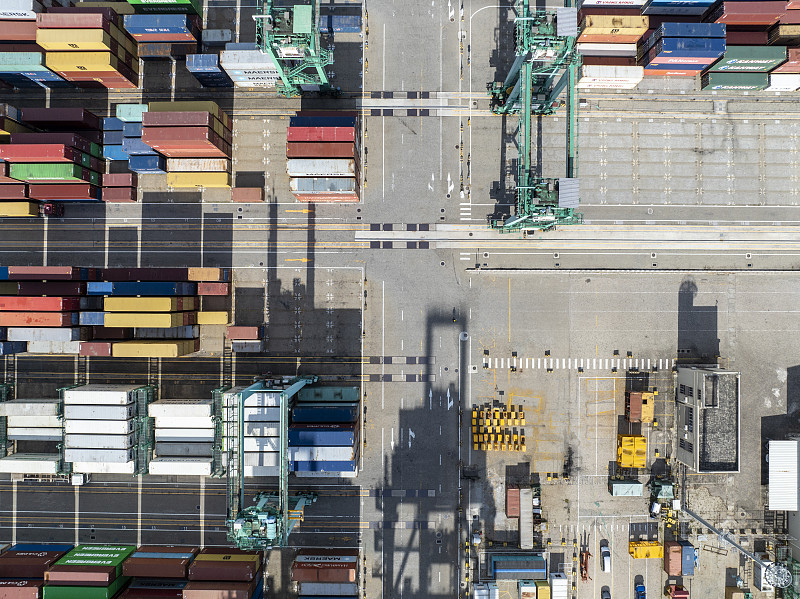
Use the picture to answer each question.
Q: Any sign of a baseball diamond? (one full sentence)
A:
No, this view has no baseball diamond in it.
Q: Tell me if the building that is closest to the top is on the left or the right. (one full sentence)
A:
The building that is closest to the top sits on the right side.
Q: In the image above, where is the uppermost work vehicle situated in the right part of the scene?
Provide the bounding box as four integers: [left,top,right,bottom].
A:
[652,468,677,504]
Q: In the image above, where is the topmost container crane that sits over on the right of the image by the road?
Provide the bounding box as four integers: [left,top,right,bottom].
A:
[492,0,588,99]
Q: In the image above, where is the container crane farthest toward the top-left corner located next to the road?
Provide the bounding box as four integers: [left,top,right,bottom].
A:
[250,0,342,98]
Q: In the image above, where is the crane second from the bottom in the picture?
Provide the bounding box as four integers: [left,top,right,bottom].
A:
[492,58,591,231]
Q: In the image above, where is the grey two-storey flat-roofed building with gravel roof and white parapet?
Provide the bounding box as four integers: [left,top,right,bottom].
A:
[676,369,741,476]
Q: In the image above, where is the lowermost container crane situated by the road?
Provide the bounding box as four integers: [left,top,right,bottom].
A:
[223,369,318,555]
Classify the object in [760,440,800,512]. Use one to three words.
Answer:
shed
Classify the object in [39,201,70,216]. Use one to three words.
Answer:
vehicle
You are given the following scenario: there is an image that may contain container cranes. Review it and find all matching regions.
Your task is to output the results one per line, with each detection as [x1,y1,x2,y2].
[492,0,588,99]
[223,369,318,555]
[492,58,591,231]
[250,0,342,98]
